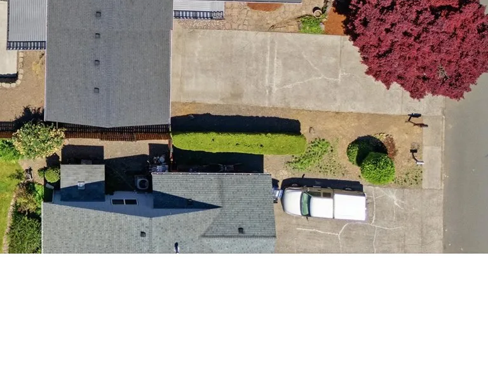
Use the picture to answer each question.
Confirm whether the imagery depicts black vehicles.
No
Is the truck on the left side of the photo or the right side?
right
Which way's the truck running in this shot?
from side to side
